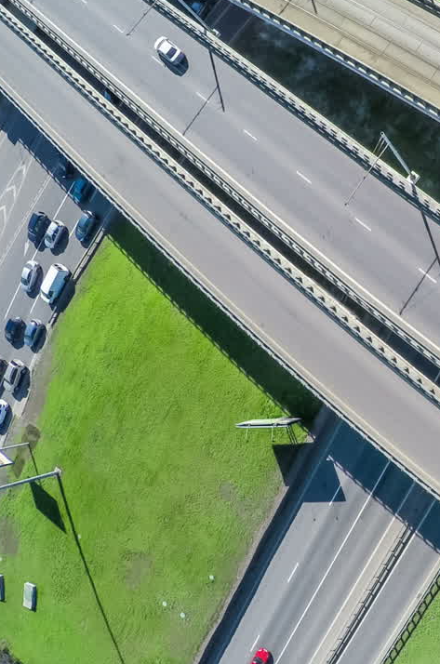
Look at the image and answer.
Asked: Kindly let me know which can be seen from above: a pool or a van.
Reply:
van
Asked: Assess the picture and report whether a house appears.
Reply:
No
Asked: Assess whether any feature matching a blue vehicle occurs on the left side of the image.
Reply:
Yes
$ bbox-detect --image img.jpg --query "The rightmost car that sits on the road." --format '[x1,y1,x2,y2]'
[250,644,271,664]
